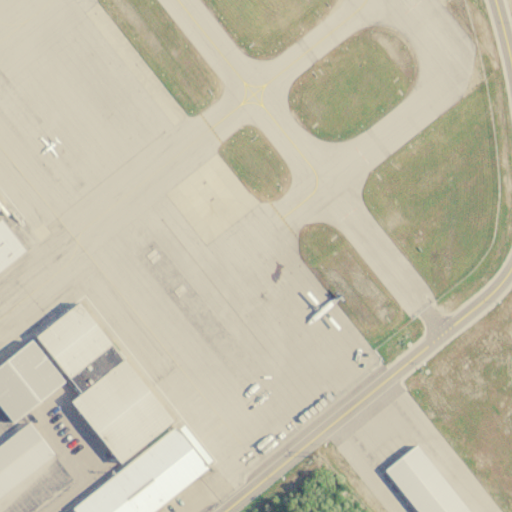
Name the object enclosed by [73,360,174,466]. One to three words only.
hangar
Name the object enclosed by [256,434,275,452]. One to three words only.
vehicle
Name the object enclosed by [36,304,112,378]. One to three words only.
hangar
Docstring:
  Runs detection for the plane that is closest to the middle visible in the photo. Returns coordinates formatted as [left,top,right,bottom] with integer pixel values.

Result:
[310,292,348,332]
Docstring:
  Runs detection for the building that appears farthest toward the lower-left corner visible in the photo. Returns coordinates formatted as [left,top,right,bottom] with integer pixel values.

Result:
[0,424,56,500]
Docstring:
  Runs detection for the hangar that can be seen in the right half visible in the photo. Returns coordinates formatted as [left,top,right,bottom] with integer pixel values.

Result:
[386,446,469,512]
